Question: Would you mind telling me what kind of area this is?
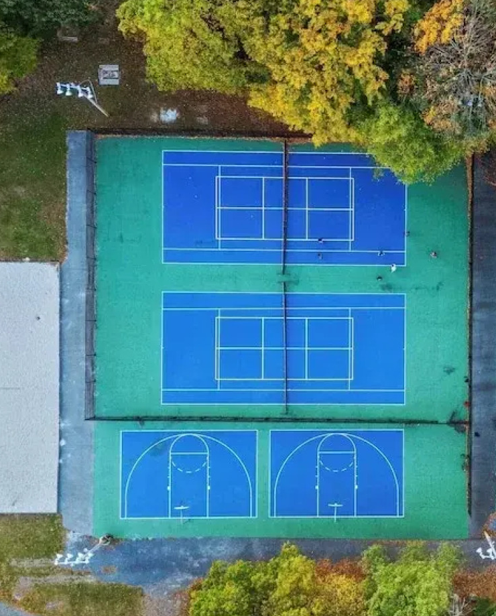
sports ground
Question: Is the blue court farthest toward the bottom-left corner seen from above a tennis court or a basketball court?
basketball court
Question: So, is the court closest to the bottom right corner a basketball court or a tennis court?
basketball court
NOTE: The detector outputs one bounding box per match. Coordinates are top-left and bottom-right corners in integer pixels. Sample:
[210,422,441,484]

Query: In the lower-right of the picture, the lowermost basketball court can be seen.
[263,419,468,540]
